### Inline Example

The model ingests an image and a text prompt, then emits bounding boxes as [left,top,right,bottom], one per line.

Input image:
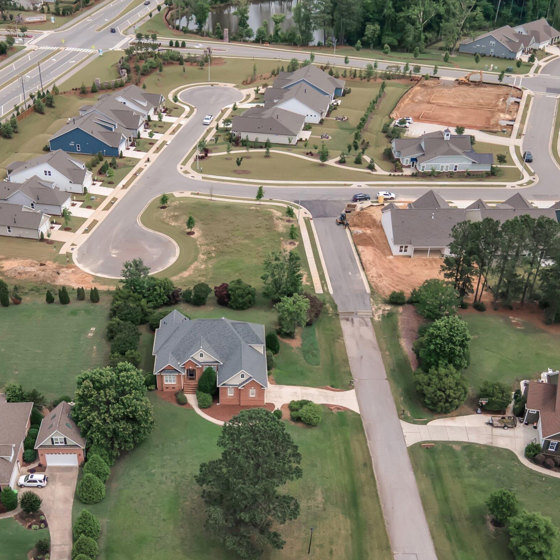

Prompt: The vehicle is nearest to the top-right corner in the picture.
[455,67,490,86]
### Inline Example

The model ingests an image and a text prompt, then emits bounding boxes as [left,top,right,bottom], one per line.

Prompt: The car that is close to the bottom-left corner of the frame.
[16,472,50,489]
